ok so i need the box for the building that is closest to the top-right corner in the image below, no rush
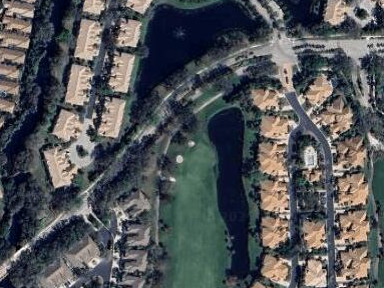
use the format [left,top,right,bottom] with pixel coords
[320,0,346,25]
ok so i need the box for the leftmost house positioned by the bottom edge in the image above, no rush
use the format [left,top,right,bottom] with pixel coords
[37,257,76,288]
